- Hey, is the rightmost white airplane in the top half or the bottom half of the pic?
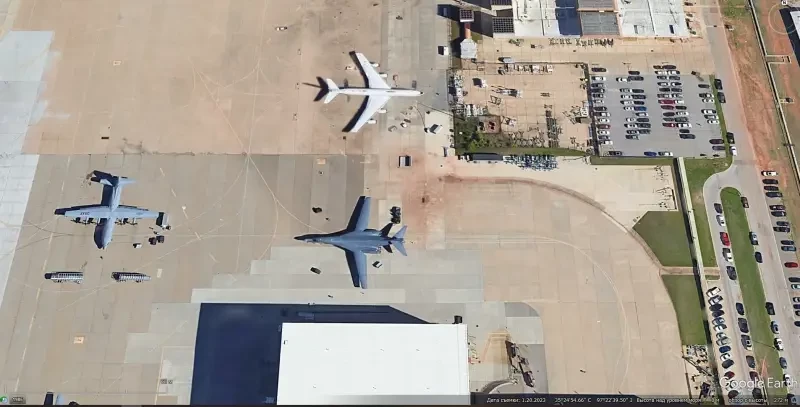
top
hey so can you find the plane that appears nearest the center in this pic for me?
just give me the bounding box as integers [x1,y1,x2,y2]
[303,196,408,289]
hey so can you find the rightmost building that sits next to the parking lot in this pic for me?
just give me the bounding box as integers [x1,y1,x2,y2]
[617,0,692,40]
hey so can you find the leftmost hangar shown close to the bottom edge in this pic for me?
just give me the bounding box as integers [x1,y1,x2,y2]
[278,322,470,407]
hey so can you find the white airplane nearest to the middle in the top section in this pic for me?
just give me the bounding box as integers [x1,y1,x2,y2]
[324,53,423,131]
